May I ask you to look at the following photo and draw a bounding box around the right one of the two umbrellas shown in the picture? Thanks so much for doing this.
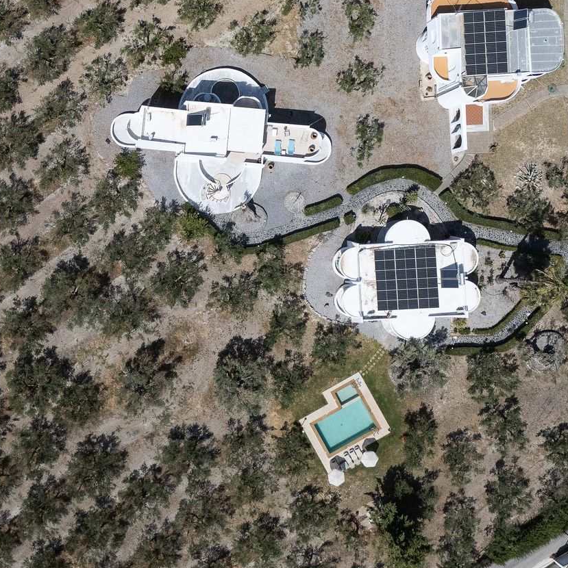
[362,450,378,467]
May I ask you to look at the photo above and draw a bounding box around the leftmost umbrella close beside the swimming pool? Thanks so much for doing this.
[327,469,344,486]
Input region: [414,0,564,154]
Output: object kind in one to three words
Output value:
house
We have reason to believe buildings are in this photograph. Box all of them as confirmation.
[331,218,480,340]
[414,0,564,154]
[111,67,332,214]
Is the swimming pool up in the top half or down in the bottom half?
bottom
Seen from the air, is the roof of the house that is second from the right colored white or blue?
white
